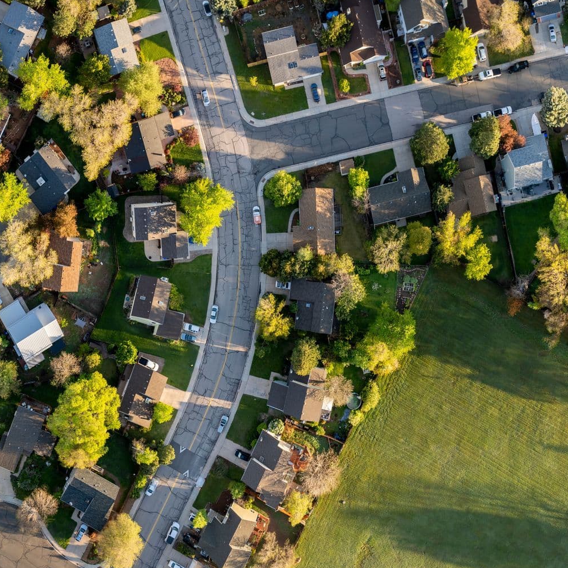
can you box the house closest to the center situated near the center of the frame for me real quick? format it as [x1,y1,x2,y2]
[288,278,335,334]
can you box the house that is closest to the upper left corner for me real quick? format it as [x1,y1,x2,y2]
[0,4,45,81]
